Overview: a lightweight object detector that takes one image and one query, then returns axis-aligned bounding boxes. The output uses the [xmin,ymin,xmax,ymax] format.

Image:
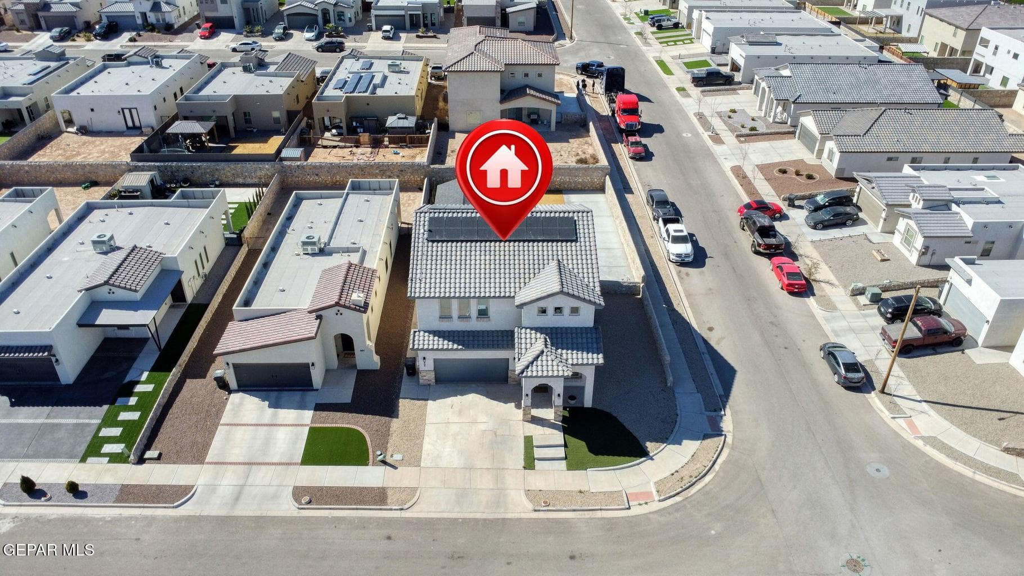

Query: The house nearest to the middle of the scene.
[407,203,610,406]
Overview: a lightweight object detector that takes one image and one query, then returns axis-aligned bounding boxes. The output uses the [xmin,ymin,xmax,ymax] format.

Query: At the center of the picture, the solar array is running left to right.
[425,218,581,241]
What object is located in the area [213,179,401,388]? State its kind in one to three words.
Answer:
house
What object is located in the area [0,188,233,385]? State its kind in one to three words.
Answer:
house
